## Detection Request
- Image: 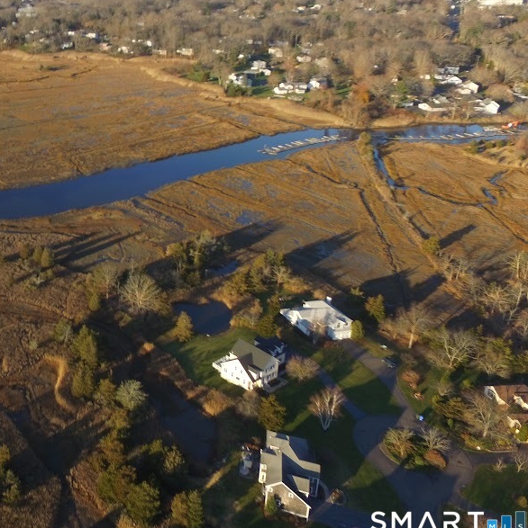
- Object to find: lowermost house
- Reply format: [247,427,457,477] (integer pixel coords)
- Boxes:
[265,440,336,523]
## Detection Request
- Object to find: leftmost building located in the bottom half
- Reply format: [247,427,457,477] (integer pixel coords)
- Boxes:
[212,332,294,399]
